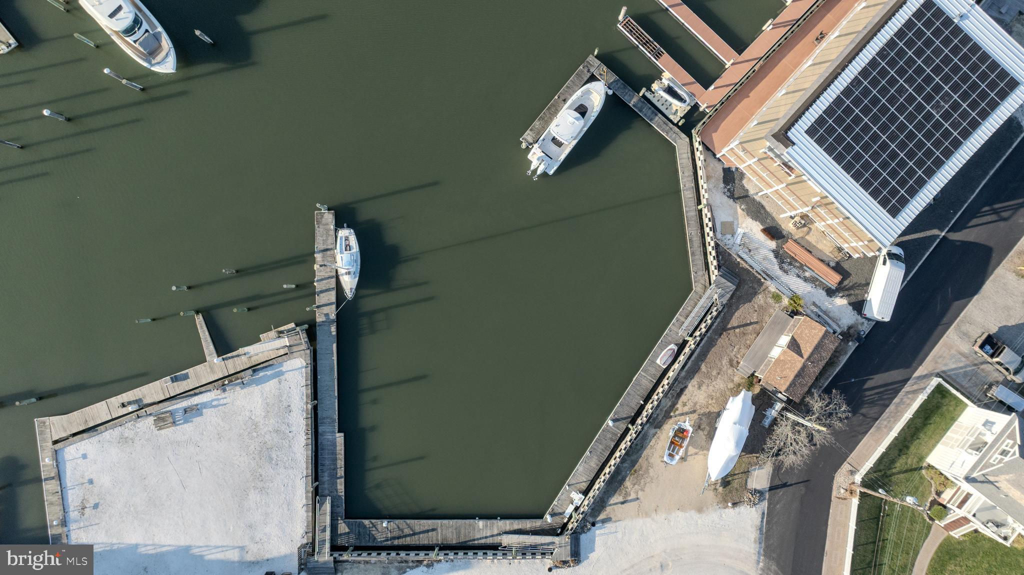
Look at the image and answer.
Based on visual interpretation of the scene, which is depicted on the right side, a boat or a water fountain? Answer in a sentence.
You can see a boat on the right side.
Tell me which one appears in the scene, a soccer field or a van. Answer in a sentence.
It is a van that can be seen here.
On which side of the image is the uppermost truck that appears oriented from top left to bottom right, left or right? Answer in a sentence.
You can find the uppermost truck that appears oriented from top left to bottom right on the right side of the picture.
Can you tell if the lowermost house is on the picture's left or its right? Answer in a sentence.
It is on the right.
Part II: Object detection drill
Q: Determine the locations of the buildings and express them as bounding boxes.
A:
[715,0,1024,259]
[736,310,841,403]
[922,405,1024,555]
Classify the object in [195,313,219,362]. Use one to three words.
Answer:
pier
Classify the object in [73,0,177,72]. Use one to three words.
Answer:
boat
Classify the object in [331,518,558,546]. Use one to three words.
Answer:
pier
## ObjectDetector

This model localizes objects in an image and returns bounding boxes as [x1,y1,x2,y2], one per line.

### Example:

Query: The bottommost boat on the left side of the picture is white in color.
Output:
[326,224,361,301]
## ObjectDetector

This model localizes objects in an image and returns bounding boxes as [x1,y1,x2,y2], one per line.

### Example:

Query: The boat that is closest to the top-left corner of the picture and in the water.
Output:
[0,19,22,58]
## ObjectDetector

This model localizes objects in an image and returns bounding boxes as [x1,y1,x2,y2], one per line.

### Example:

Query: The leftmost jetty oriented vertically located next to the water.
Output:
[37,418,68,575]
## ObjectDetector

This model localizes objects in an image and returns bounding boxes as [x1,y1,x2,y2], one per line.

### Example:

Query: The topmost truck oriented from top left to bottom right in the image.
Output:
[976,332,1024,387]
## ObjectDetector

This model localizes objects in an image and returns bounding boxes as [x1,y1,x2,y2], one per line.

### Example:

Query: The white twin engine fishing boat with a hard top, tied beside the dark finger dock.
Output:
[526,80,605,182]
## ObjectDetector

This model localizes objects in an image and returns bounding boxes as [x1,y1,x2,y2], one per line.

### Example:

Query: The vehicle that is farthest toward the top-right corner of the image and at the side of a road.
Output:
[858,245,907,321]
